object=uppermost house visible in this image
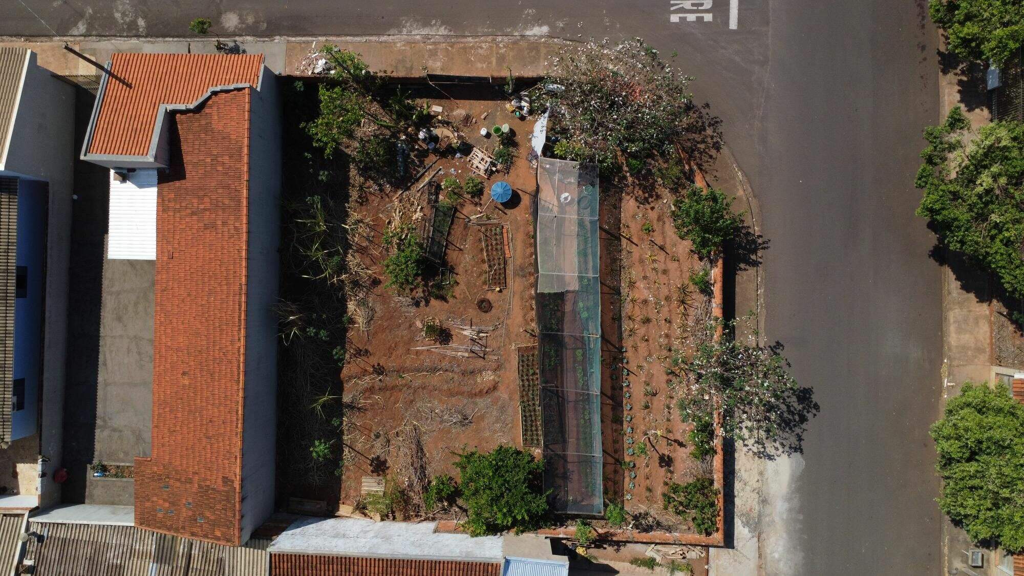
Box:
[0,44,74,185]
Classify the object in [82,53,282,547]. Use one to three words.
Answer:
house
